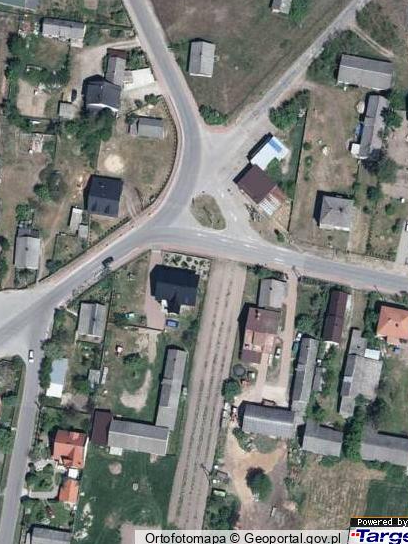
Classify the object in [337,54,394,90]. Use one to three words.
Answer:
barn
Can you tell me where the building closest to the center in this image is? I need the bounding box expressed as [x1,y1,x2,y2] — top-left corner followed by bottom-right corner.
[154,271,198,314]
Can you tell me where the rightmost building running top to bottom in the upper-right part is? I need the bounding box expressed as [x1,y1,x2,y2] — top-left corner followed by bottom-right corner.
[360,94,389,157]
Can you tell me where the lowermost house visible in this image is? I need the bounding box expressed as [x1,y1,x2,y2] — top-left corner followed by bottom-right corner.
[30,525,73,544]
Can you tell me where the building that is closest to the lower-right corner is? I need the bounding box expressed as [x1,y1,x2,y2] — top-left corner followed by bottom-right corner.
[360,430,408,466]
